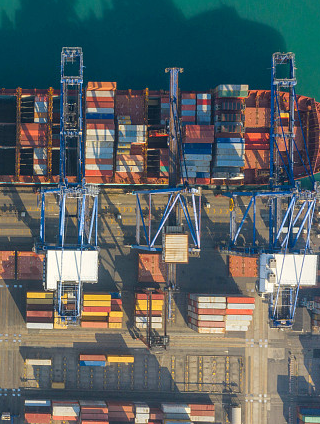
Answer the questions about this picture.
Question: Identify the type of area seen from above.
port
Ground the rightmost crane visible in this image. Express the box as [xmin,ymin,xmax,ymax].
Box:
[212,55,320,331]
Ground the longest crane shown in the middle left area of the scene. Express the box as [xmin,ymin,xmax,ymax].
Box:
[34,49,108,328]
